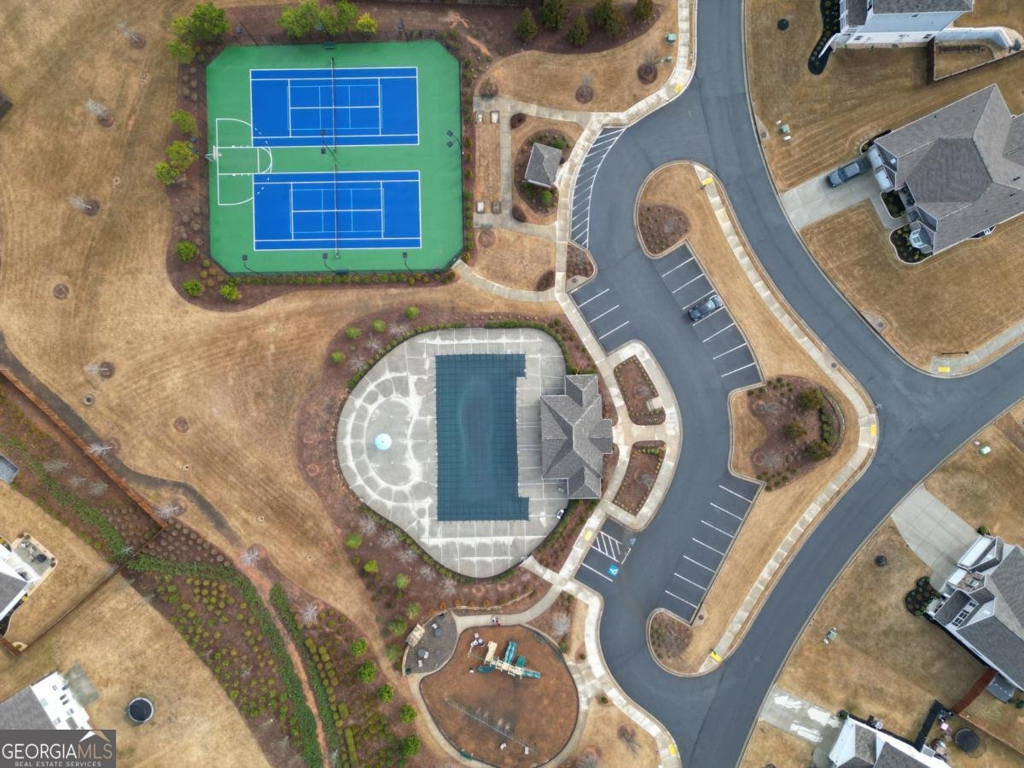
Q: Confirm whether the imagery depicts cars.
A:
Yes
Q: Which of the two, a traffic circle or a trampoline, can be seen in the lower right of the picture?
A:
trampoline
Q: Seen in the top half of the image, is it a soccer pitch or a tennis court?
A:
tennis court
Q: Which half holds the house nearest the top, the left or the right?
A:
right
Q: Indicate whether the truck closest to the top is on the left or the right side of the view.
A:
right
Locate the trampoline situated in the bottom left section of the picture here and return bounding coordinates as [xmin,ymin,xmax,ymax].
[128,697,155,723]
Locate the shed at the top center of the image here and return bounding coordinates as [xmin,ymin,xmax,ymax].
[524,142,562,189]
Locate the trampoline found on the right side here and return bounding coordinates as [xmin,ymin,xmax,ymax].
[952,726,979,752]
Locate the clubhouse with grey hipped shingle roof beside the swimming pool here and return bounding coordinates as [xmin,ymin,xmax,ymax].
[540,375,614,498]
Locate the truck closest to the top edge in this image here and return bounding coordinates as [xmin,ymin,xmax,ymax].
[822,157,871,191]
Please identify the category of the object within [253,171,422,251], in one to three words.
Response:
tennis court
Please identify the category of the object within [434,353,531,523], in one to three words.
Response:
swimming pool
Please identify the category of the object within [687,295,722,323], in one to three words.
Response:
car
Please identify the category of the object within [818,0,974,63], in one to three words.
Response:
house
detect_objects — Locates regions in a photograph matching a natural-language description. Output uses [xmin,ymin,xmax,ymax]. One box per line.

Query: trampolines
[128,697,155,723]
[952,726,979,752]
